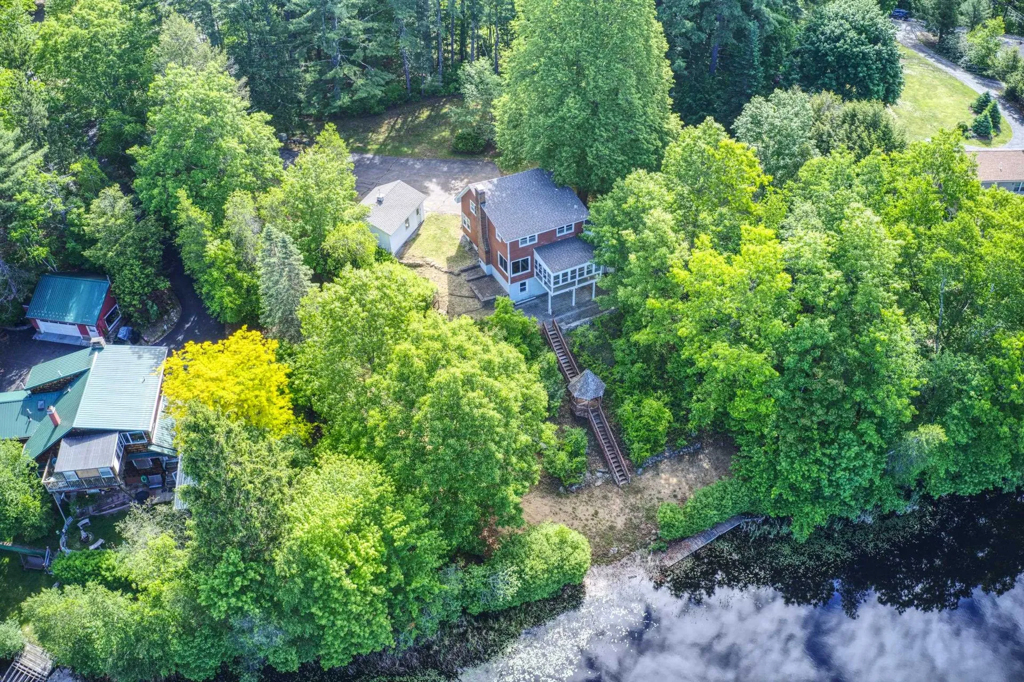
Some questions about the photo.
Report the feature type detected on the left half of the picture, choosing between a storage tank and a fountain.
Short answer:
fountain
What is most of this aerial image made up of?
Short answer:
trees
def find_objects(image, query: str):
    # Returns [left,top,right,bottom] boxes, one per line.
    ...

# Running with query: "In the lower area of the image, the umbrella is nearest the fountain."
[131,488,152,504]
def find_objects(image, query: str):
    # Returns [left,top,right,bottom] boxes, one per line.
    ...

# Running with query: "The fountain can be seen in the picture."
[71,525,104,551]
